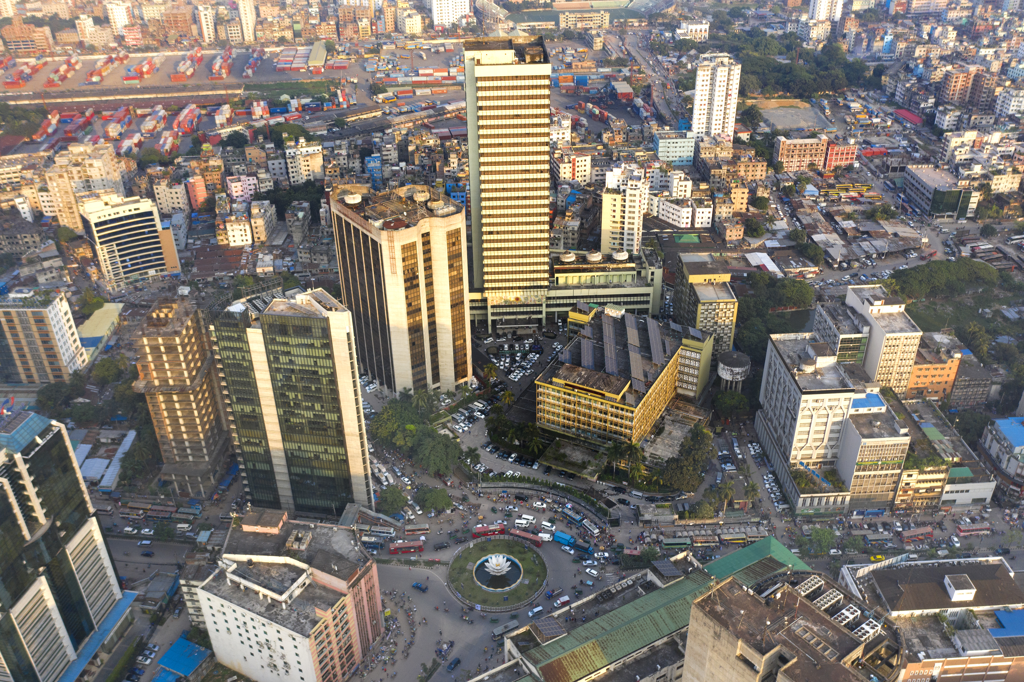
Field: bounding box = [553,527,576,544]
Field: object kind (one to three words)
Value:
vehicle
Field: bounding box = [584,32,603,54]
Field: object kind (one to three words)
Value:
building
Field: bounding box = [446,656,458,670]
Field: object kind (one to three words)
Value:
vehicle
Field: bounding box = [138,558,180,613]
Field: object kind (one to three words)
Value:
shed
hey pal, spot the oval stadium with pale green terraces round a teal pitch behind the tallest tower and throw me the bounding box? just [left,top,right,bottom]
[470,0,706,33]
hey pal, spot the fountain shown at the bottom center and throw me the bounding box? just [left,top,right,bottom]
[471,551,524,593]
